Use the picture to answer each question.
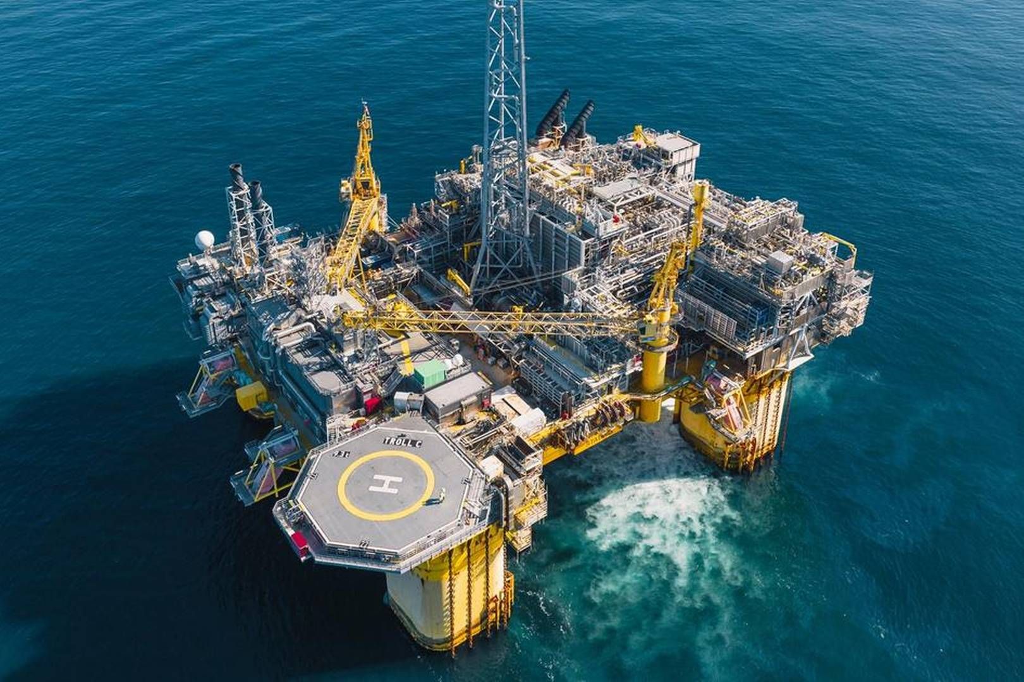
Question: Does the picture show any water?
Yes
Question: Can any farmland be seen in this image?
No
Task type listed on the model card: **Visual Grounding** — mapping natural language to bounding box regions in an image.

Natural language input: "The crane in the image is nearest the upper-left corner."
[327,103,396,305]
